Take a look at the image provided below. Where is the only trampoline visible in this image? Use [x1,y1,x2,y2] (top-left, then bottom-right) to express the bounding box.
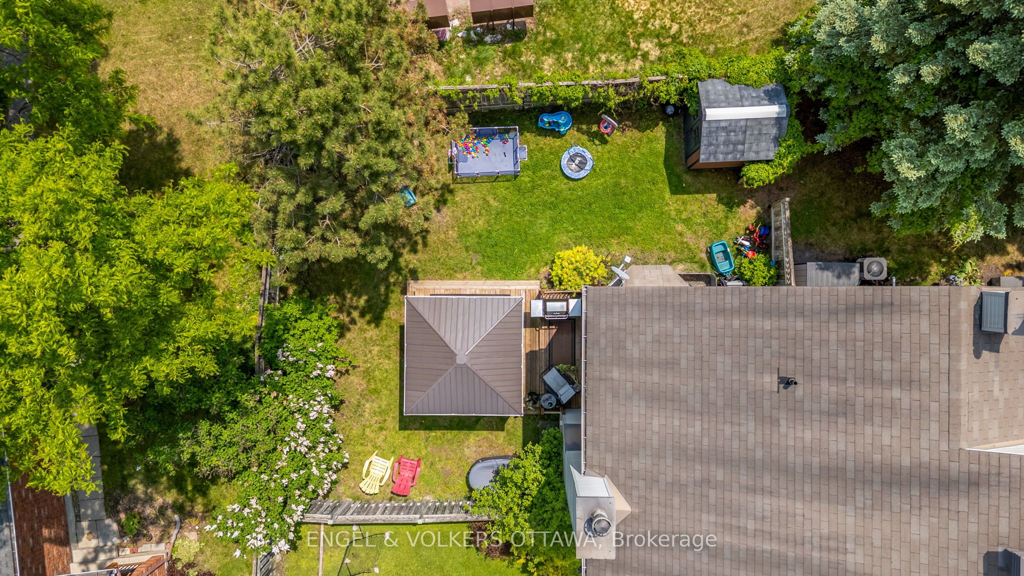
[560,143,595,180]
